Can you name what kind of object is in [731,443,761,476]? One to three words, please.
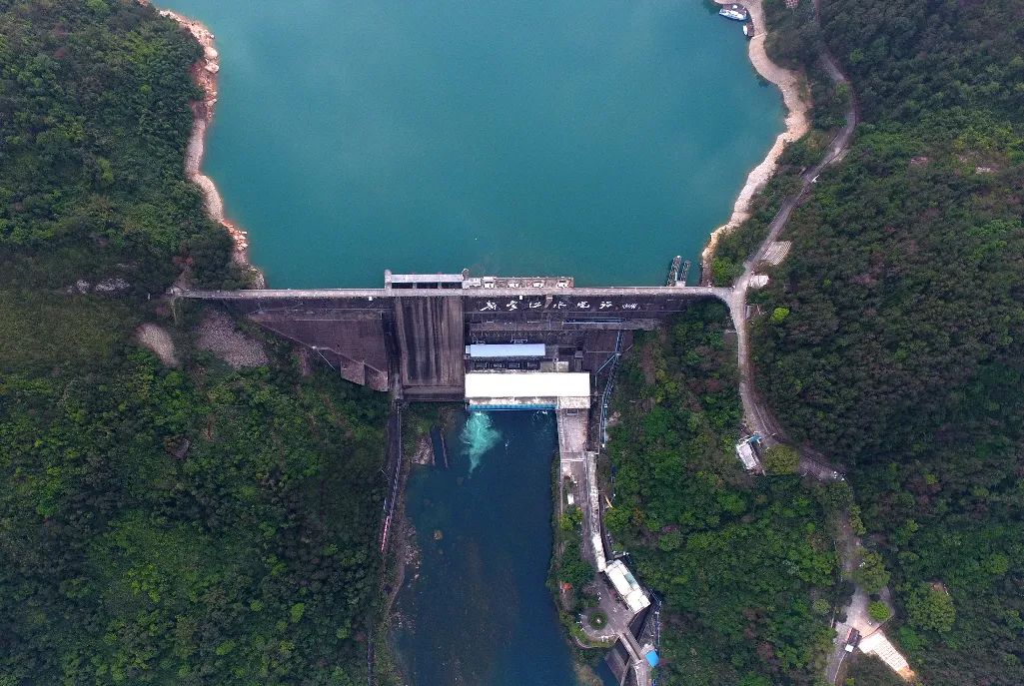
house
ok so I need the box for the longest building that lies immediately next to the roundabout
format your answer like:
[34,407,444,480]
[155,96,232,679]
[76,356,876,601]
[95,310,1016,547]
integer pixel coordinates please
[604,560,650,614]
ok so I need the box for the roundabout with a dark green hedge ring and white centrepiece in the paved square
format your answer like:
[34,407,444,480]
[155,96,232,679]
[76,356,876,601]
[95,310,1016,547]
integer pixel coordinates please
[581,601,614,637]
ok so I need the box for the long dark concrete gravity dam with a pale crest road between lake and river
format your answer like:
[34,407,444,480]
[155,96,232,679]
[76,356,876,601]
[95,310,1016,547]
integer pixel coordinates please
[182,269,746,401]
